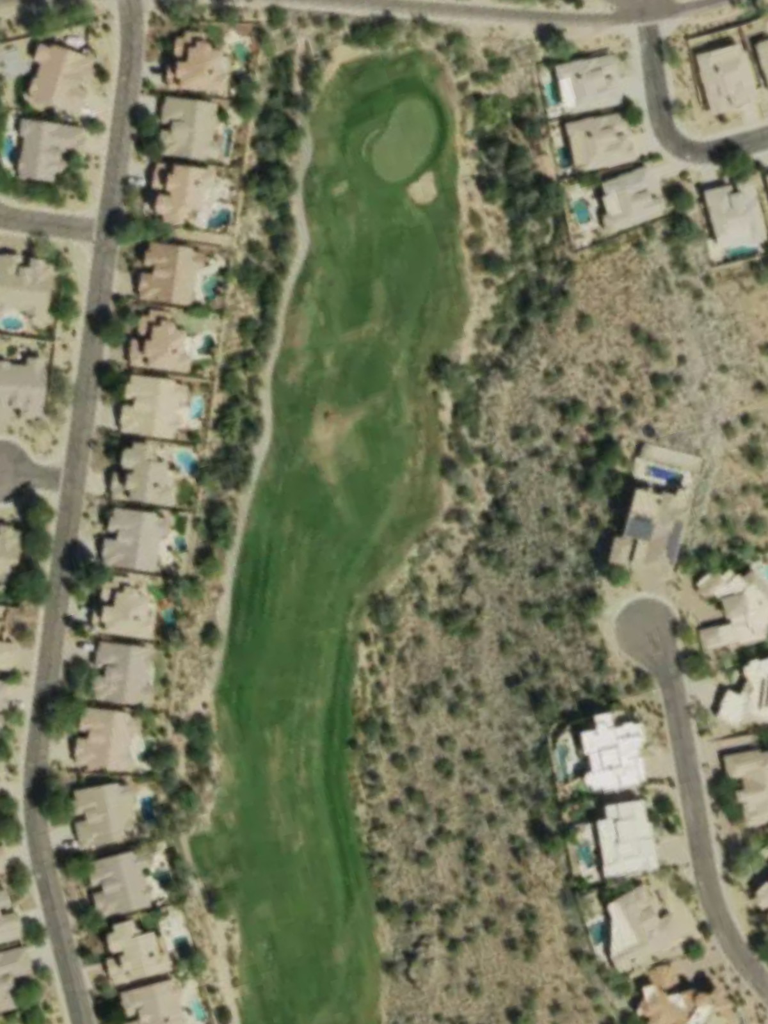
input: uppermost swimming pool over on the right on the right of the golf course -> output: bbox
[544,72,560,105]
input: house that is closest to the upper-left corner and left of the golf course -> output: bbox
[23,39,95,110]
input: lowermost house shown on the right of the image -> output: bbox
[639,989,724,1024]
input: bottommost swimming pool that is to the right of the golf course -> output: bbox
[589,919,608,946]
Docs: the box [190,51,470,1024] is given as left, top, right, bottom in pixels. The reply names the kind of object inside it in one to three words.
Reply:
golf course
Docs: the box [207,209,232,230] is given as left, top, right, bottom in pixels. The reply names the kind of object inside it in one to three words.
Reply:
swimming pool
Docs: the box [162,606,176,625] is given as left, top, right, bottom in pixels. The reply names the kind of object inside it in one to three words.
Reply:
swimming pool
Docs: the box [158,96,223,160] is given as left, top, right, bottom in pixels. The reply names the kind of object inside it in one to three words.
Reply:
house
